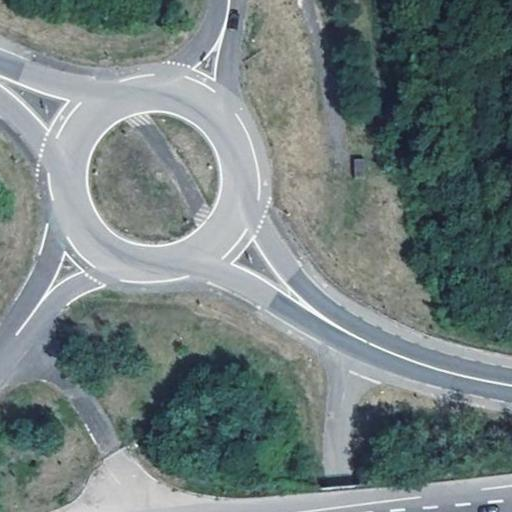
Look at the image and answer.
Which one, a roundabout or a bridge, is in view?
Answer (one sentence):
The one in the frame is a roundabout.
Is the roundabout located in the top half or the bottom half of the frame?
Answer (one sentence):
It is in the top half that the roundabout appears.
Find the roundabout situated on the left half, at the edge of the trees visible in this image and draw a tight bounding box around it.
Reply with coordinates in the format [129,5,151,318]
[36,61,272,285]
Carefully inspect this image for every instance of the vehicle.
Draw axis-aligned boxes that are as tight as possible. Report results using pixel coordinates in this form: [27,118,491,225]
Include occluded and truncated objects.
[478,506,500,512]
[228,8,239,30]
